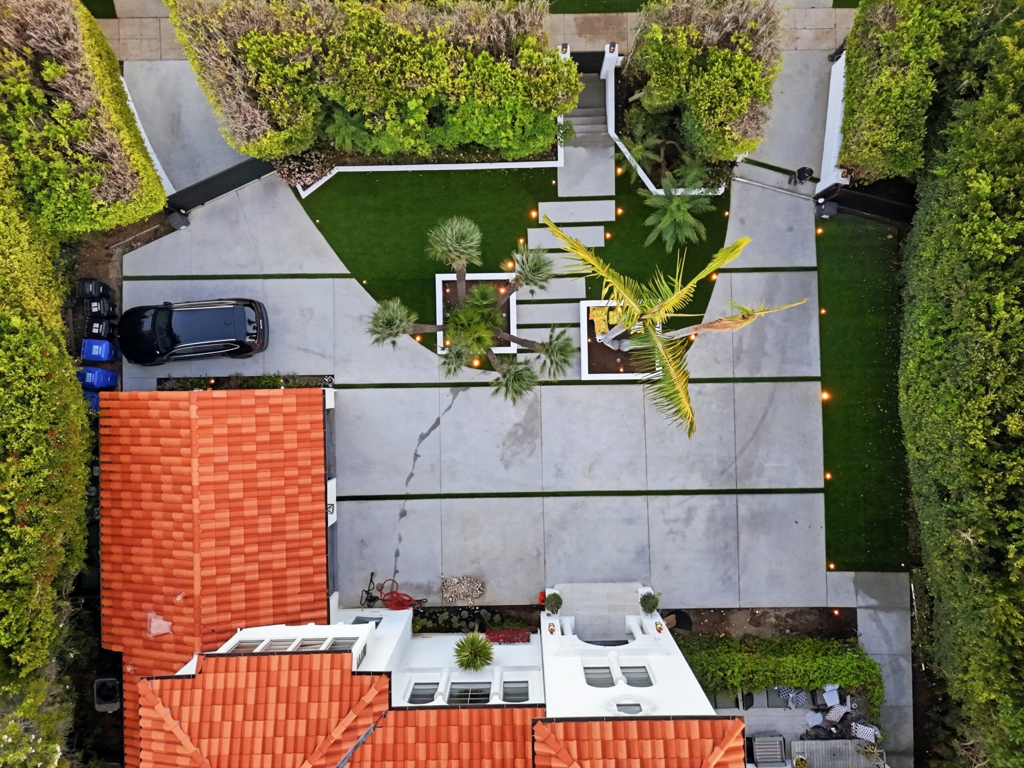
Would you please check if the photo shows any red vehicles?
No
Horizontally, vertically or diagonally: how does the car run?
horizontally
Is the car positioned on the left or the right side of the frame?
left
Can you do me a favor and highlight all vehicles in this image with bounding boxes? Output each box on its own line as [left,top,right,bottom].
[118,298,271,369]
